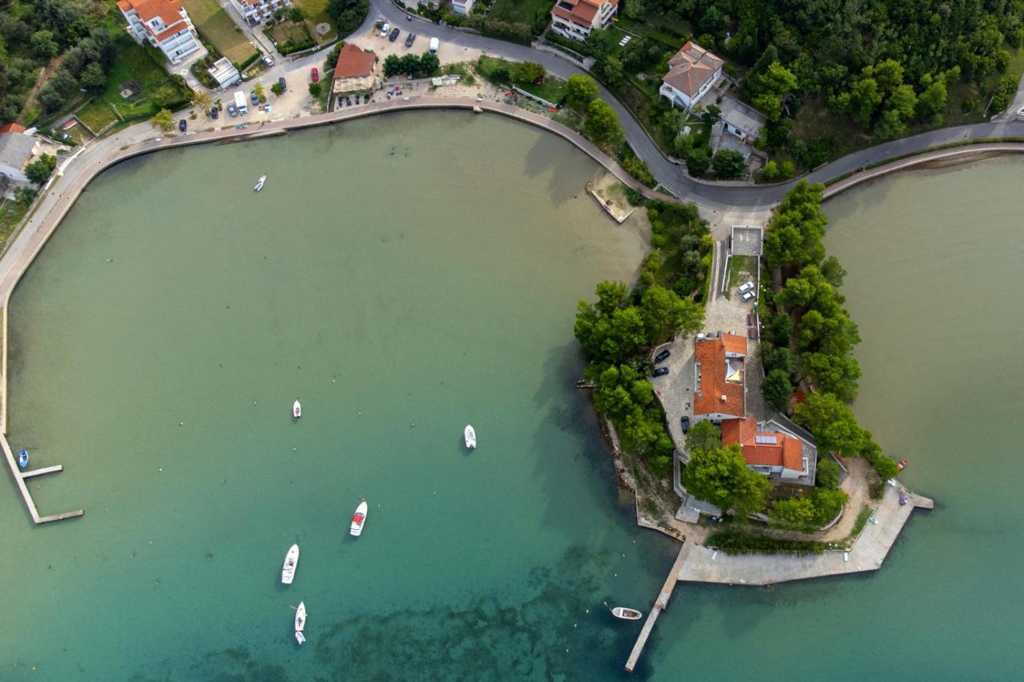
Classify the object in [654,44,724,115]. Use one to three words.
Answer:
house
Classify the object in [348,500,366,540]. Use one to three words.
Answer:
boat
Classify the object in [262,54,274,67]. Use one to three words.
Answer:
vehicle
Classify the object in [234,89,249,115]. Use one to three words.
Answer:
camper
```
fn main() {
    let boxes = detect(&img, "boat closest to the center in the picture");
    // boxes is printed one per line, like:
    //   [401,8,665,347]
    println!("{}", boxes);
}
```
[464,424,476,451]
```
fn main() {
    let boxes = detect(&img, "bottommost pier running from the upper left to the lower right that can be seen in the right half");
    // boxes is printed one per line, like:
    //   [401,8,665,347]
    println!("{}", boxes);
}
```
[899,483,934,511]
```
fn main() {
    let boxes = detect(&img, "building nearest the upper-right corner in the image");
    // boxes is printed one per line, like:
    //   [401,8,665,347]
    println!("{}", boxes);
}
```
[720,91,780,140]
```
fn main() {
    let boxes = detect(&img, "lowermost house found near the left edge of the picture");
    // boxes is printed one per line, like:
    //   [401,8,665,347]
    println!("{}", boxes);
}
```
[0,132,45,186]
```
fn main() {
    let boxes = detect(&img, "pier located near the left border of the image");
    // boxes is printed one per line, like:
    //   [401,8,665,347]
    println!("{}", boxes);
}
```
[0,432,86,528]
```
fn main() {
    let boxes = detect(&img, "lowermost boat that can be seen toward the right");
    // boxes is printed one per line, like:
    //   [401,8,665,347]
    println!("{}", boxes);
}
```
[612,606,642,619]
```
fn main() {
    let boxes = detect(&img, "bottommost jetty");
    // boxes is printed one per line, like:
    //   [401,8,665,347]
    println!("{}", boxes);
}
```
[624,542,687,674]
